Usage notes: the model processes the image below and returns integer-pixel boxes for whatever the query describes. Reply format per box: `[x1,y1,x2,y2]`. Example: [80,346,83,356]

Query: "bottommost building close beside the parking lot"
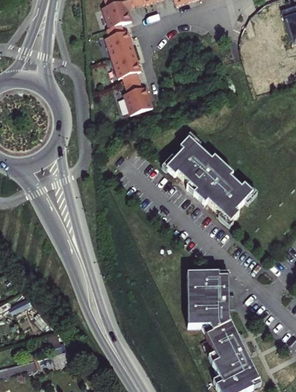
[204,319,262,392]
